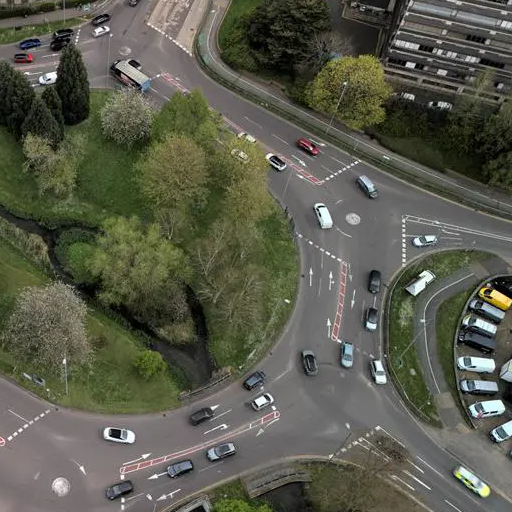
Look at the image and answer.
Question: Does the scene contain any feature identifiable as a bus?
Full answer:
Yes, this view includes a bus.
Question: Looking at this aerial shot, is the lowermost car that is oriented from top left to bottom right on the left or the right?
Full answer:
The lowermost car that is oriented from top left to bottom right sits on the right side.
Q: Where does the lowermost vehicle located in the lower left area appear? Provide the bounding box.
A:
[104,480,137,501]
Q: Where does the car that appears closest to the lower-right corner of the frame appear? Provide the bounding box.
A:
[454,467,490,499]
